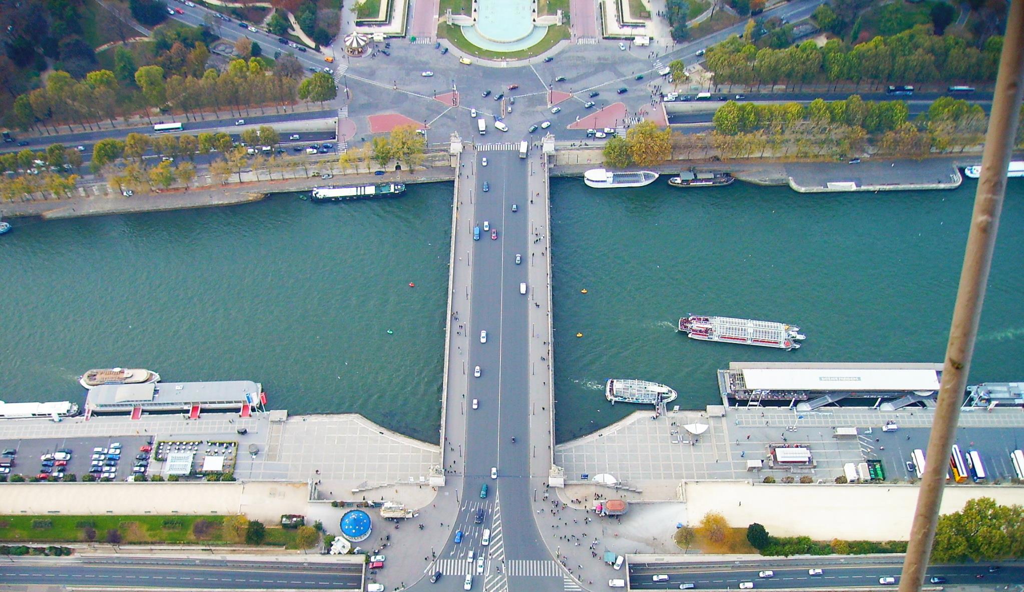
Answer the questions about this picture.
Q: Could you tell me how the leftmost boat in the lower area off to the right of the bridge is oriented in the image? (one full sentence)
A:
The leftmost boat in the lower area off to the right of the bridge has been laid out from left to right relative to the frame.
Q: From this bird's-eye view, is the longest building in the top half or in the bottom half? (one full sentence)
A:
Seen from above, the longest building lies in the bottom half of the view.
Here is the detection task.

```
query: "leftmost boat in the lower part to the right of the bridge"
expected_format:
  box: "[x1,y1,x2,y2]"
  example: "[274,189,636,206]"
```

[605,379,677,405]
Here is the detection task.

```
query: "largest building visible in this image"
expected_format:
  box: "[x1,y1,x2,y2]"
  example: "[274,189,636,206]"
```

[729,365,944,407]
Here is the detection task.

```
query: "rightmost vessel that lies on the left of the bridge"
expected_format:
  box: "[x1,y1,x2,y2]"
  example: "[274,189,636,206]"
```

[307,183,410,204]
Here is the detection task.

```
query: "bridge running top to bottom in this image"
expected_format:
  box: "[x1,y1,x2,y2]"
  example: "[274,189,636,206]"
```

[435,150,560,482]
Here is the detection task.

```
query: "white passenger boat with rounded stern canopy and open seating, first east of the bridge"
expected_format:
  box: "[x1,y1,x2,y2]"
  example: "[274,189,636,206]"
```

[581,170,661,189]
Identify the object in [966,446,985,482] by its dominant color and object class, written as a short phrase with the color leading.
white vehicle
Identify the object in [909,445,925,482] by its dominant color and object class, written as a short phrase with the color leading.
white vehicle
